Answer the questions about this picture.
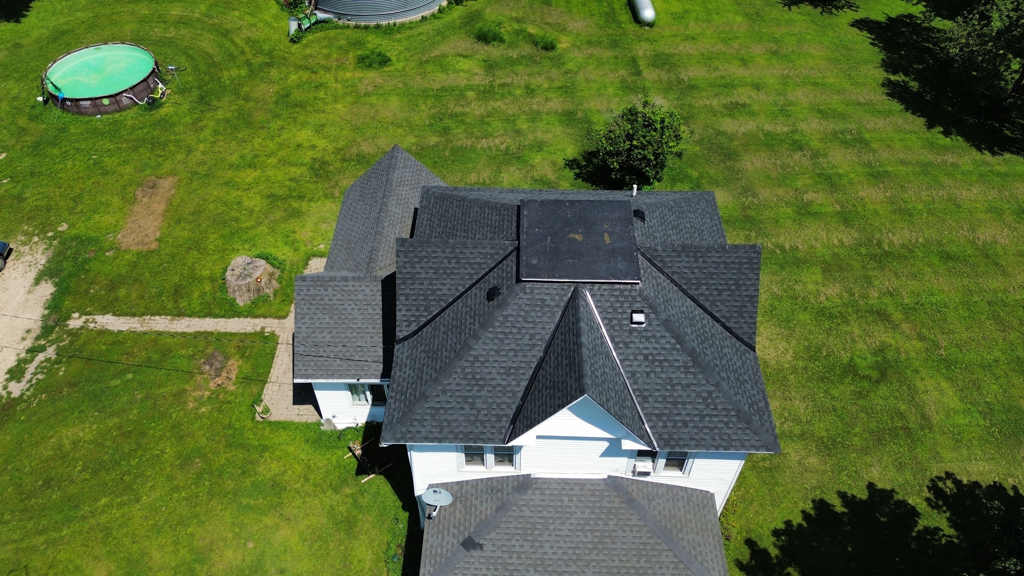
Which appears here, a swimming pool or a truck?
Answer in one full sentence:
Of the two, only a swimming pool appears.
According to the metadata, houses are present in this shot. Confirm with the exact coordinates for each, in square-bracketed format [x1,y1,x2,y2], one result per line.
[293,145,783,576]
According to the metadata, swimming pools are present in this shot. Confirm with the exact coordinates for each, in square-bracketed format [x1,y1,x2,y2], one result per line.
[41,41,161,115]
